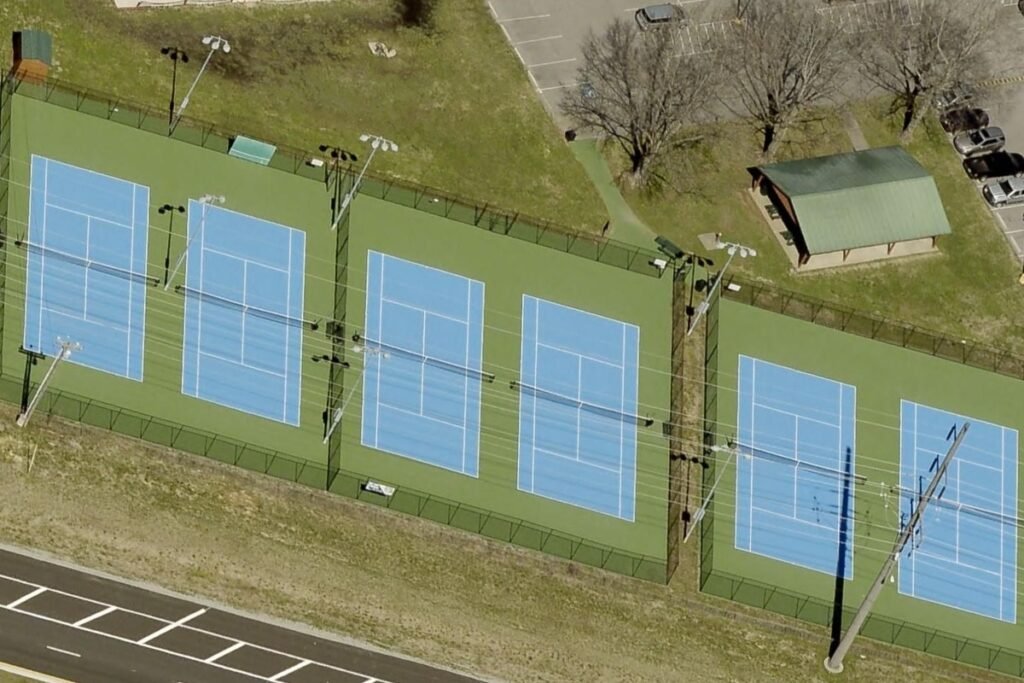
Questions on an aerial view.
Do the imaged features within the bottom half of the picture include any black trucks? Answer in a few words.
No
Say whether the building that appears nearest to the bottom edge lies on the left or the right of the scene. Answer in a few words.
right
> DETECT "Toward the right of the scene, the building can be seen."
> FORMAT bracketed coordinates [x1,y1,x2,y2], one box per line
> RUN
[746,145,952,275]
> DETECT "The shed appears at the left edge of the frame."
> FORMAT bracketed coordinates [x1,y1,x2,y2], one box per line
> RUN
[13,30,54,84]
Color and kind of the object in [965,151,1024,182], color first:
black truck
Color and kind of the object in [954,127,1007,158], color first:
gray car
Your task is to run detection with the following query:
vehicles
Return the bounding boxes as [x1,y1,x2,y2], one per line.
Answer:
[954,127,1007,158]
[635,2,686,31]
[937,104,991,136]
[982,178,1024,209]
[965,151,1024,182]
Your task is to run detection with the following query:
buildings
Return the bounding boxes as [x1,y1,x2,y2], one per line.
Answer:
[13,30,54,84]
[746,145,952,275]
